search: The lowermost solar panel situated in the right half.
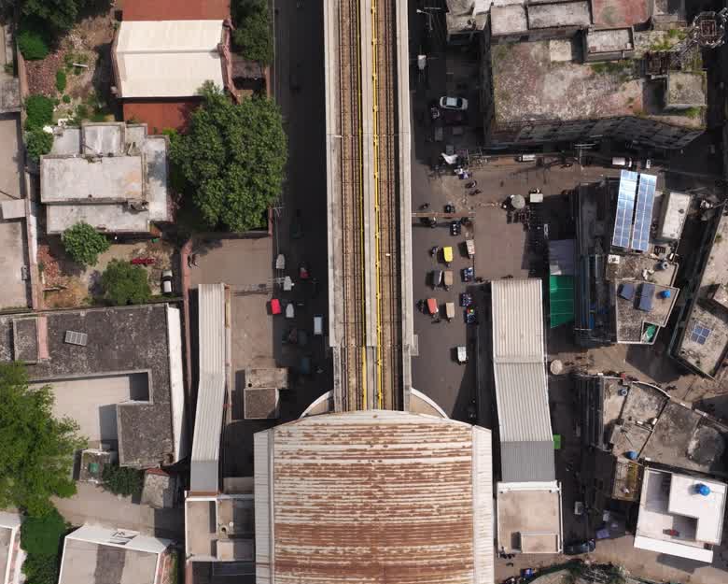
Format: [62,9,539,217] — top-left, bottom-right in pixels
[691,324,710,345]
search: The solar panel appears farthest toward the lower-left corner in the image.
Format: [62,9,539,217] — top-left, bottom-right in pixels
[64,331,86,346]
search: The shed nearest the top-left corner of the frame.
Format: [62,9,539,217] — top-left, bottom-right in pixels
[0,78,28,118]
